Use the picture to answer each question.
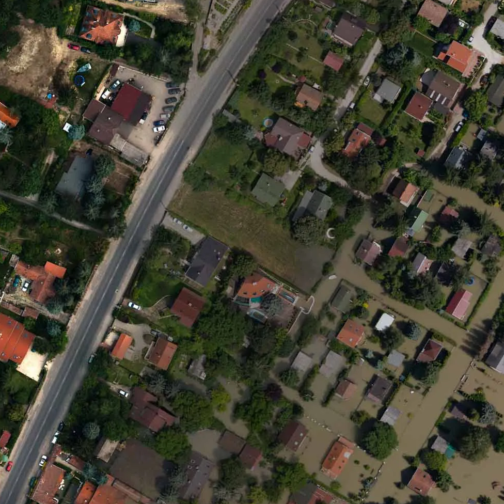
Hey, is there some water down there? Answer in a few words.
Yes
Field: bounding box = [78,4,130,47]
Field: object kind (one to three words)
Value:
house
